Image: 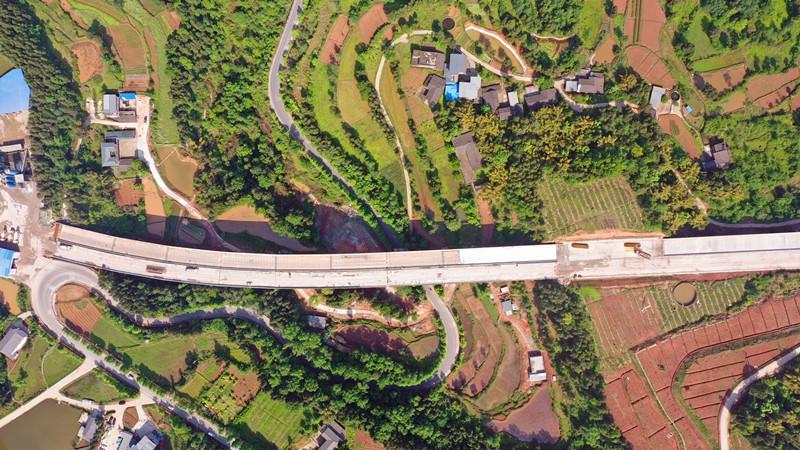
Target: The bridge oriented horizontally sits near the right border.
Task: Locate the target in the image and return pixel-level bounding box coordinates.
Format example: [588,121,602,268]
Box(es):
[664,232,800,255]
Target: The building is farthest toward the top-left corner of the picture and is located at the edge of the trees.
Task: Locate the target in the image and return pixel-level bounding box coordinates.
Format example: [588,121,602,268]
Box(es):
[0,68,37,116]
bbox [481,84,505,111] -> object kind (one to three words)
house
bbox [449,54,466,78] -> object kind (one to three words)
house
